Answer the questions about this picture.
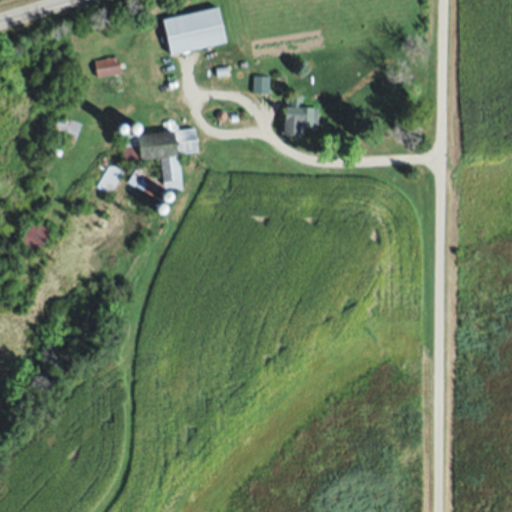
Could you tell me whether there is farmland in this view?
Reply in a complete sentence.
Yes, the picture does contain farmland.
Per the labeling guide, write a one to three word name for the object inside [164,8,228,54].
shed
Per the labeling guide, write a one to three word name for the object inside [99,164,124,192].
shed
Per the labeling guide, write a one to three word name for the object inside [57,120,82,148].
house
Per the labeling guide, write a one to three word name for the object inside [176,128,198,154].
barn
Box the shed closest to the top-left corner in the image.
[95,57,122,78]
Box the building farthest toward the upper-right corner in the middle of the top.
[285,96,320,138]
